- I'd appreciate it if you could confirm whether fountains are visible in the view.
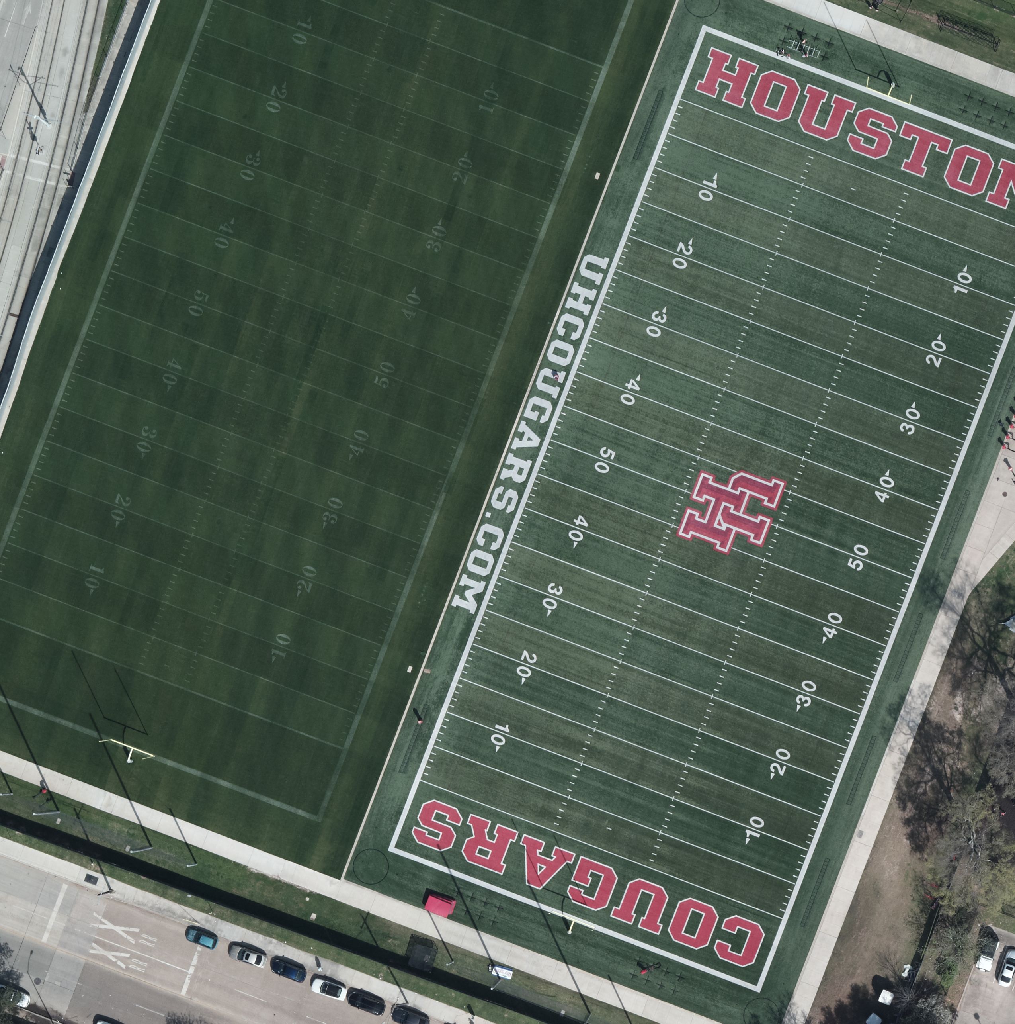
No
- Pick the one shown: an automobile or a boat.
automobile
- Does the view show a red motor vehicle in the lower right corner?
No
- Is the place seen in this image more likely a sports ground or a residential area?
sports ground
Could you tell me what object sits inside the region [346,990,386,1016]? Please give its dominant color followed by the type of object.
black car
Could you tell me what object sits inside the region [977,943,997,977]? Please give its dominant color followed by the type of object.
white car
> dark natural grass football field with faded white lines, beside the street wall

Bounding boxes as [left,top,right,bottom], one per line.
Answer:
[0,0,676,879]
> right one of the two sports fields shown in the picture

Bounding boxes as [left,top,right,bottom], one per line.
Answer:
[343,0,1015,1024]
